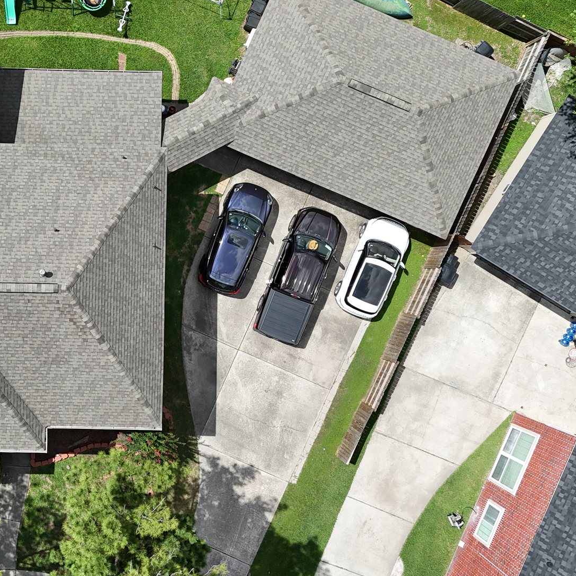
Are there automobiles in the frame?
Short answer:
Yes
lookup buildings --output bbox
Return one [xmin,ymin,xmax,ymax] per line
[454,417,576,576]
[0,65,170,455]
[463,93,576,314]
[225,0,520,241]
